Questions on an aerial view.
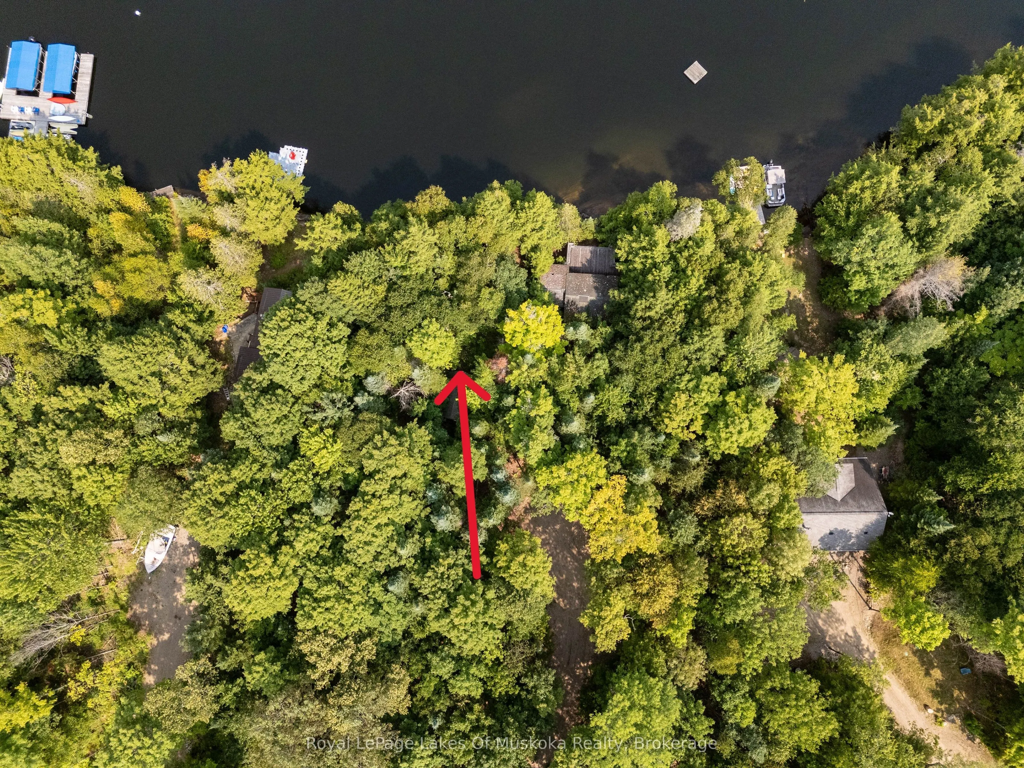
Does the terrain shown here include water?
Yes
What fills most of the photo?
trees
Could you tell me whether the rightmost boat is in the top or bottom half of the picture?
top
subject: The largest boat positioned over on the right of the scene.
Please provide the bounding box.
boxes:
[766,157,788,205]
